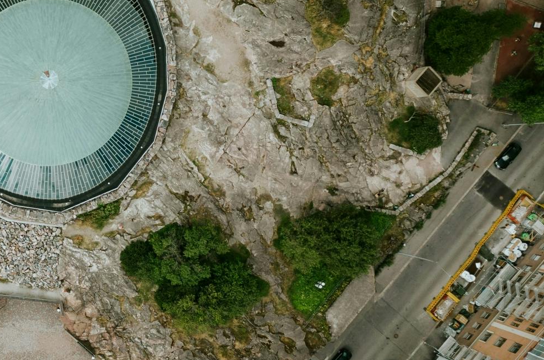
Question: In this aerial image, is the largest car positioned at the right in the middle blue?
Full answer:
No, the largest car positioned at the right in the middle is black.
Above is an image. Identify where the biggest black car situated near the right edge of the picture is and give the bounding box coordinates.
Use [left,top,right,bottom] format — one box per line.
[496,143,522,170]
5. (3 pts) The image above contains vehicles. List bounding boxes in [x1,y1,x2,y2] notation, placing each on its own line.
[335,349,353,360]
[496,143,522,170]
